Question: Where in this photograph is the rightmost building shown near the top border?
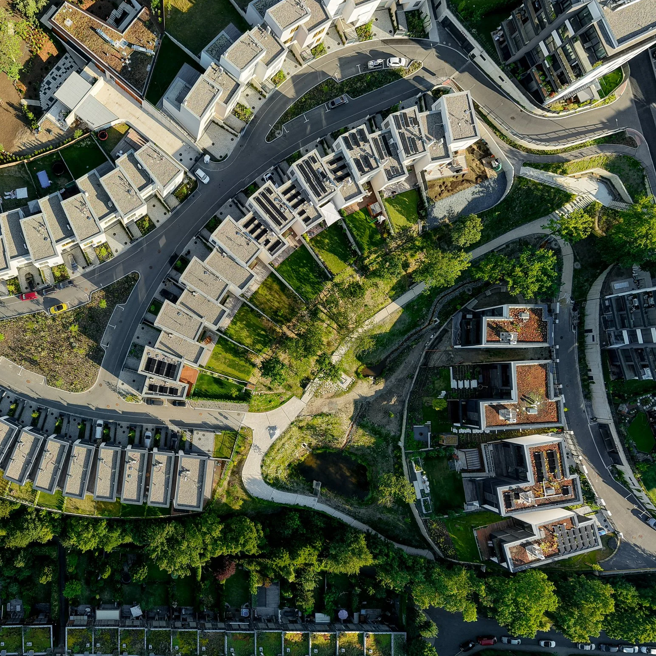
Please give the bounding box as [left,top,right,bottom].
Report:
[487,0,656,111]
